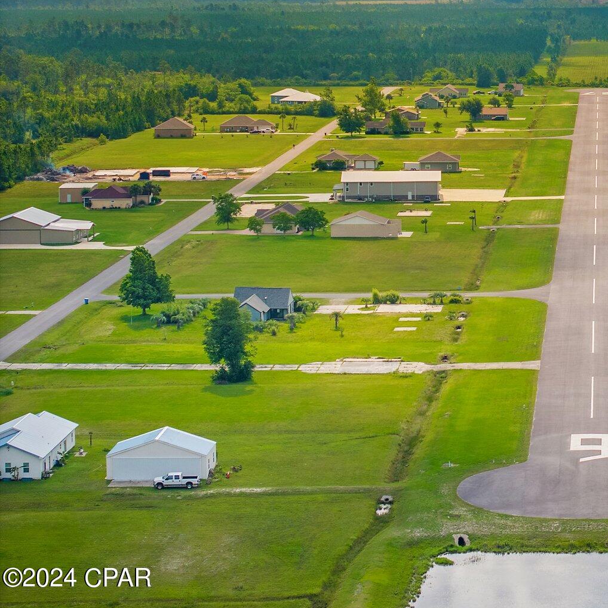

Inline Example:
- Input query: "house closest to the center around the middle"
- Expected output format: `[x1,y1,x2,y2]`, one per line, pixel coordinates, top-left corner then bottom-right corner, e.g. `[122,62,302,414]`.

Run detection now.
[234,288,294,320]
